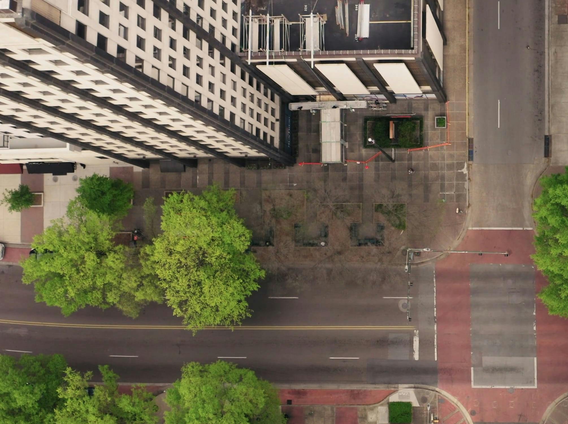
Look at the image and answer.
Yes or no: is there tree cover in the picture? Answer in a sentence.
Yes, there is tree cover in the image.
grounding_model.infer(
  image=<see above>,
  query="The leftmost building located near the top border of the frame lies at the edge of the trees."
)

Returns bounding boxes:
[0,0,296,167]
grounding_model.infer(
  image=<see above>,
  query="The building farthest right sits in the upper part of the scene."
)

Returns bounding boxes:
[236,0,441,96]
